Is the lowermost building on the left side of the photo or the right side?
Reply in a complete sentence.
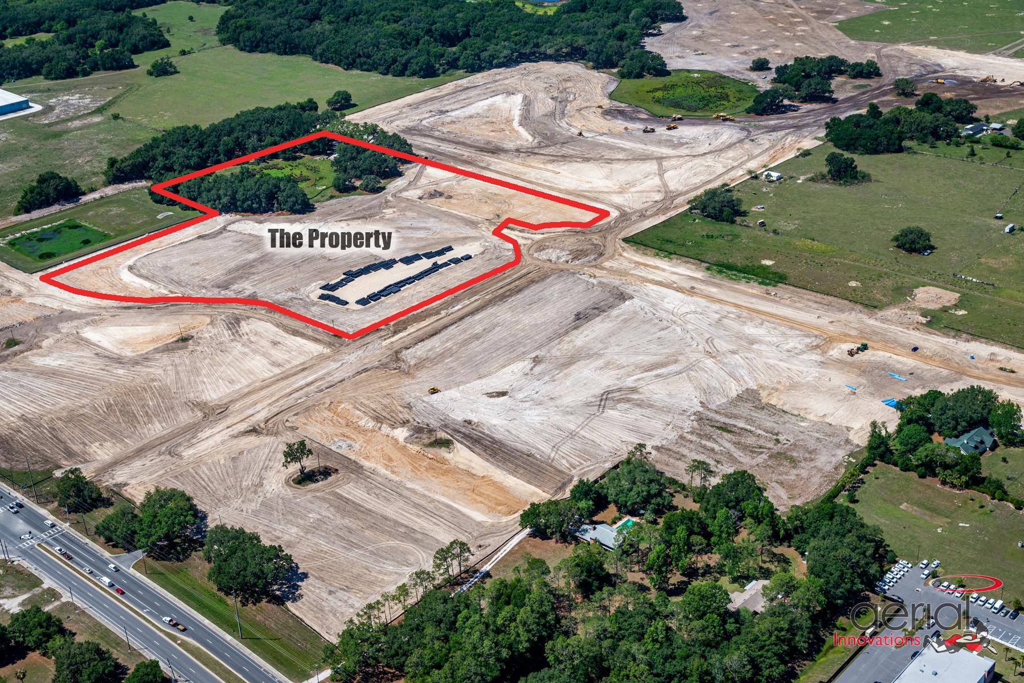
The lowermost building appears in the right half of the scene.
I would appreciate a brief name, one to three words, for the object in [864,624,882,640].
vehicle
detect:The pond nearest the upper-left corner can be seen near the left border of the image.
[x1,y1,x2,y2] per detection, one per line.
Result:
[6,219,115,263]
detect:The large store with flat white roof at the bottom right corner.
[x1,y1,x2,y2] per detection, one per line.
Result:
[897,637,998,683]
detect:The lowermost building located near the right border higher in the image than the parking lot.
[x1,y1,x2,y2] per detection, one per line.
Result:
[937,427,1002,464]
